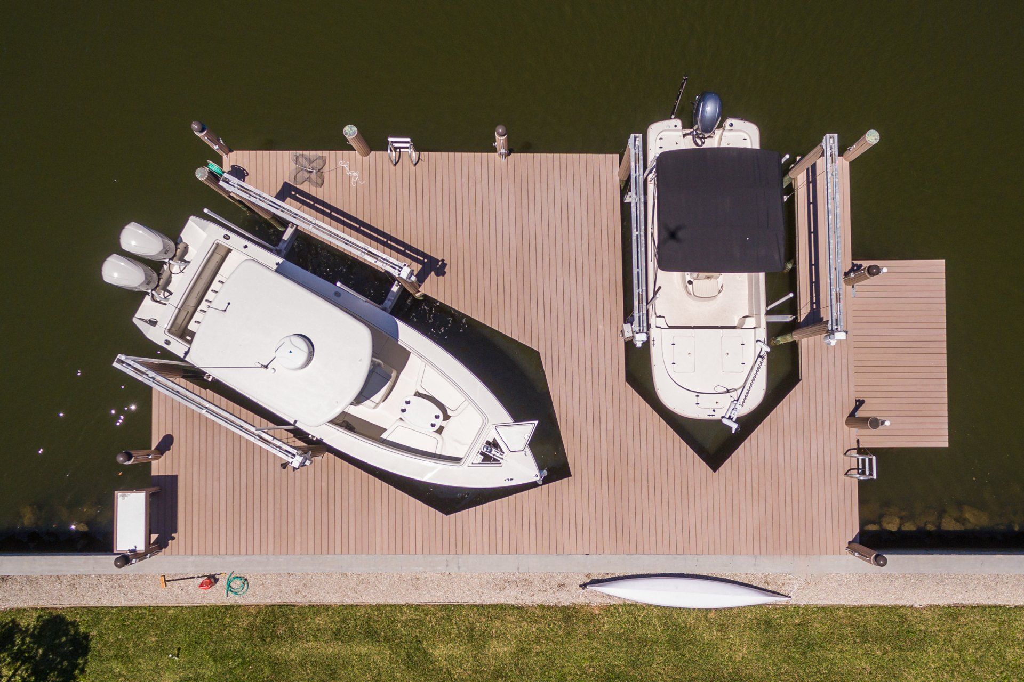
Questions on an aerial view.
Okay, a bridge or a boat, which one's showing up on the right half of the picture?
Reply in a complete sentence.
Looking on the right half of the picture, you will find a boat.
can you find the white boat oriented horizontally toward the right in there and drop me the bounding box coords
[579,576,798,610]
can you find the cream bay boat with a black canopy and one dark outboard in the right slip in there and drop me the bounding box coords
[646,75,784,433]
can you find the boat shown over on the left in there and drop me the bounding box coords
[100,217,547,489]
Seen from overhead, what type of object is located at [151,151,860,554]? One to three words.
pier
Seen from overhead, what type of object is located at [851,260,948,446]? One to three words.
pier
